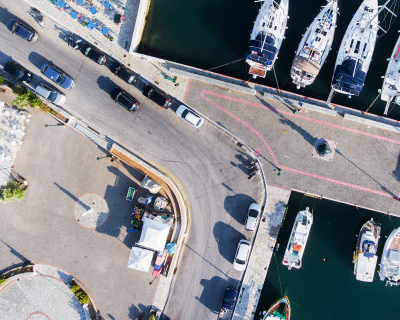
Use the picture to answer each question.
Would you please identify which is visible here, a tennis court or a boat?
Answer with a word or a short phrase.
boat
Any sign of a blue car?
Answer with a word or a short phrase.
Yes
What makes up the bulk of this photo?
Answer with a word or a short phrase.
paved ground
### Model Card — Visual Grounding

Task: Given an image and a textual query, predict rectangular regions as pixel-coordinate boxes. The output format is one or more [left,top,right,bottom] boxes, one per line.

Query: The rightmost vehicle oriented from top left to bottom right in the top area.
[175,103,207,130]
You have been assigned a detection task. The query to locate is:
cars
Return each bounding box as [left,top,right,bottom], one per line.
[142,84,175,112]
[245,202,262,232]
[1,59,35,85]
[216,285,238,320]
[5,18,40,44]
[233,238,252,270]
[38,60,78,90]
[32,82,68,108]
[109,62,141,87]
[175,103,207,130]
[109,84,143,114]
[78,41,109,66]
